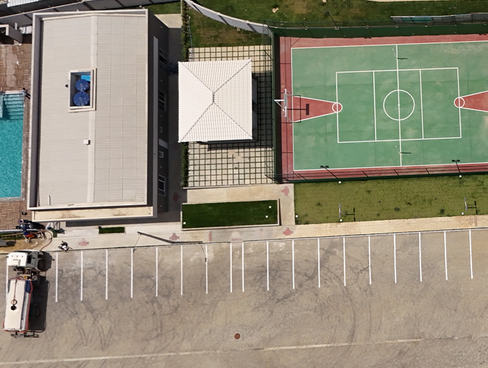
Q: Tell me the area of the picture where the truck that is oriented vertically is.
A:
bottom left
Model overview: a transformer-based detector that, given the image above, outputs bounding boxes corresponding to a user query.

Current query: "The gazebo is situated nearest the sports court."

[178,58,258,145]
